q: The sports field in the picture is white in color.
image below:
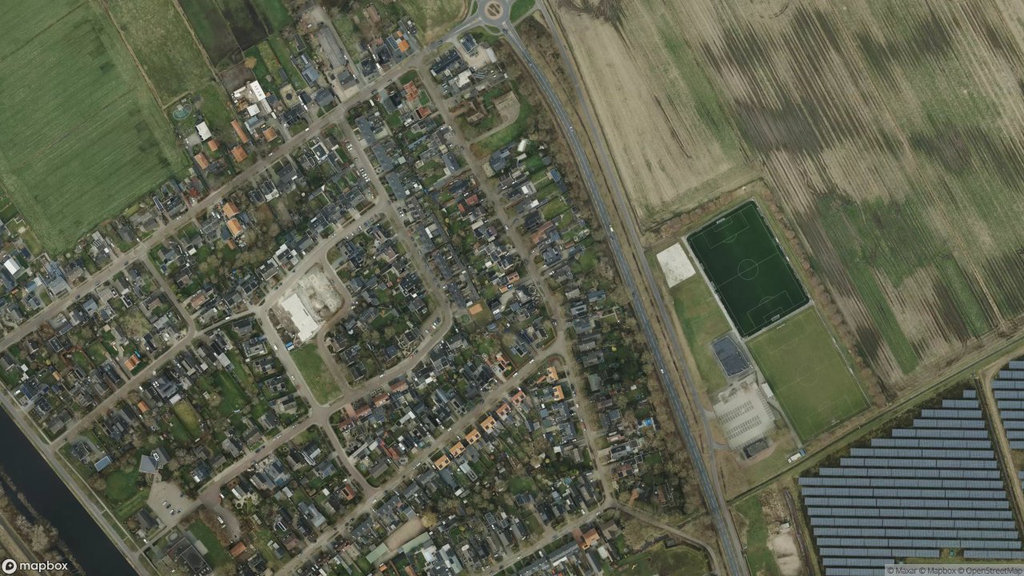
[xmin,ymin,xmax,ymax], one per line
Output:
[656,243,695,288]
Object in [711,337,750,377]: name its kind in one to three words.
sports court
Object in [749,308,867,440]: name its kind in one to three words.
soccer field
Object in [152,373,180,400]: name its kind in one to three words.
house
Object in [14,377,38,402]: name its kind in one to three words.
house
